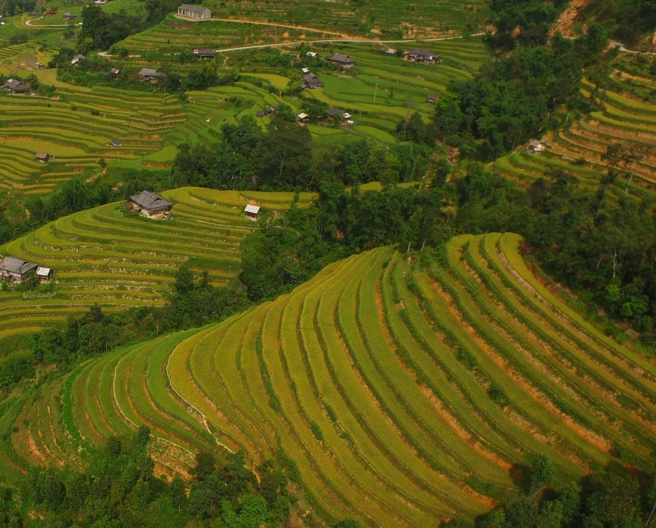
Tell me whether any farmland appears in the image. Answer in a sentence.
Yes, some farmland is visible.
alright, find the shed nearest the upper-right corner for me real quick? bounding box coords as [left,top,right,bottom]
[522,134,549,153]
